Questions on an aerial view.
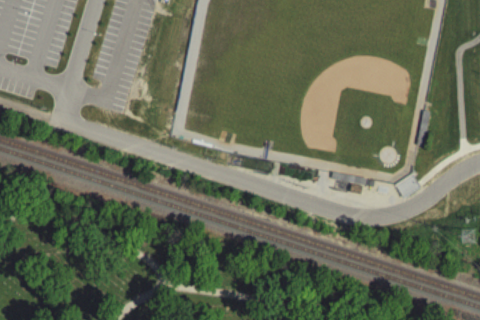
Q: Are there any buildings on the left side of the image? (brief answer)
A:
No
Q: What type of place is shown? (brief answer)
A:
sports ground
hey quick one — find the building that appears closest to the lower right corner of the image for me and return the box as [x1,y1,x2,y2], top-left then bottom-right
[394,170,421,196]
